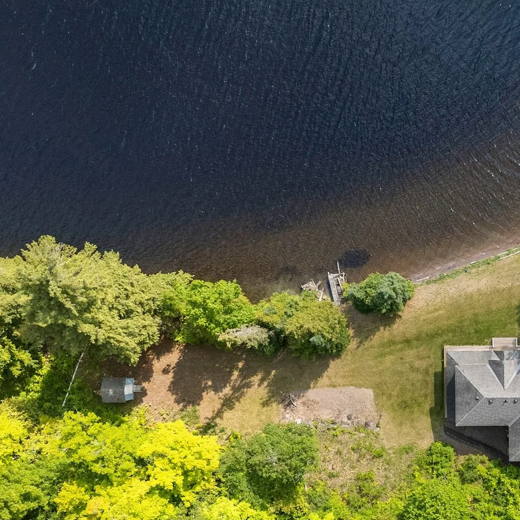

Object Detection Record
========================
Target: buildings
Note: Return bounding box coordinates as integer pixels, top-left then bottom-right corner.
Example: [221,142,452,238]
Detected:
[444,337,520,463]
[96,377,143,403]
